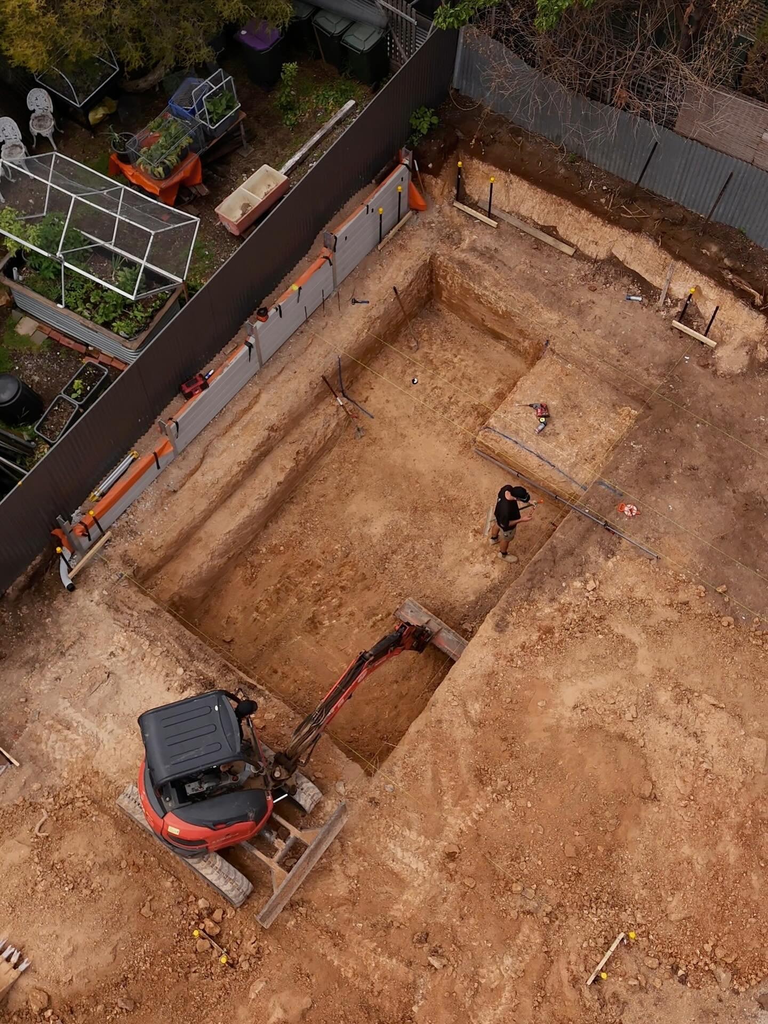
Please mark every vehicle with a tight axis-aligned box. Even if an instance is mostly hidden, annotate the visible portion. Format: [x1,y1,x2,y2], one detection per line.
[114,591,474,927]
